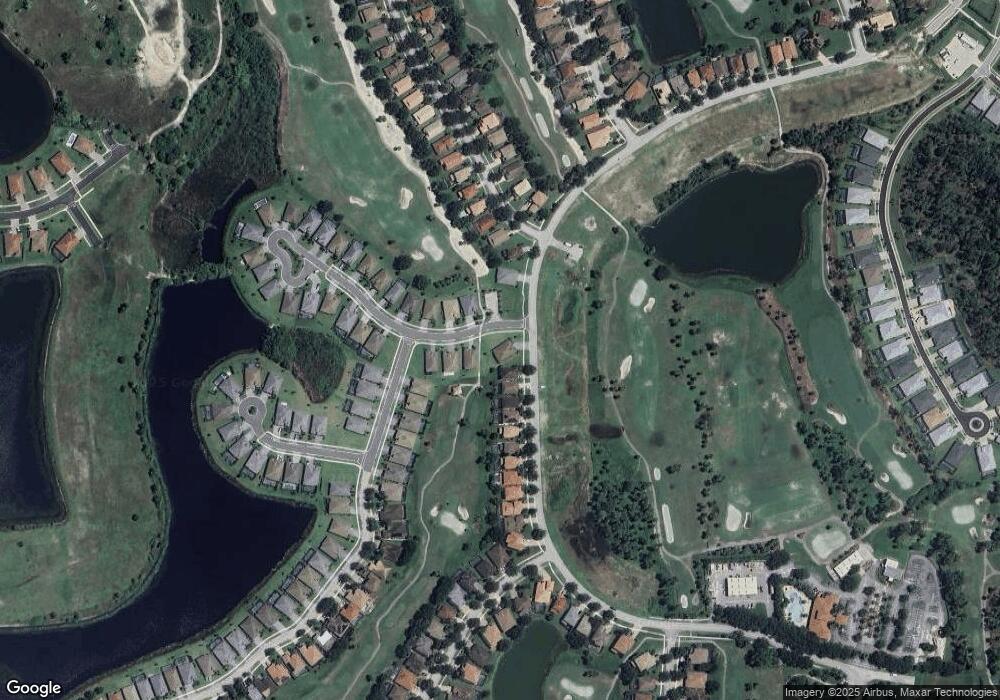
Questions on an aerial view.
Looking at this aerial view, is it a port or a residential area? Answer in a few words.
residential area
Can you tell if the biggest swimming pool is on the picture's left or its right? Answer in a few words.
right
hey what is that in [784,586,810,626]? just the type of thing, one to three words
swimming pool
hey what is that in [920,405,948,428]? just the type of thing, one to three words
house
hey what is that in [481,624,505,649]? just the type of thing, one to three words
house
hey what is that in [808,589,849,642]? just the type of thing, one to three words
building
